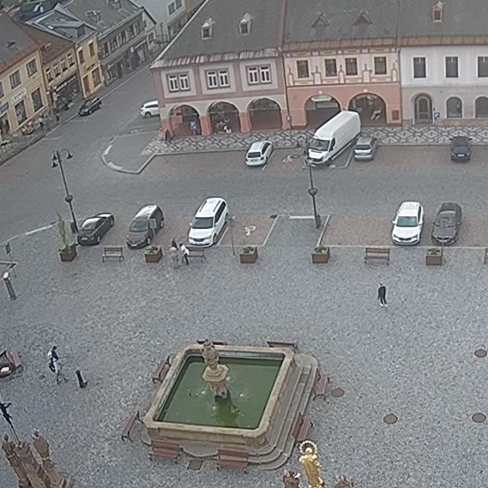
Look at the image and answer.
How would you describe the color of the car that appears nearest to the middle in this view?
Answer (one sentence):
From above, the car that appears nearest to the middle appears white.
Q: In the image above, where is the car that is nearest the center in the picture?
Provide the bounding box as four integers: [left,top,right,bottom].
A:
[187,198,232,245]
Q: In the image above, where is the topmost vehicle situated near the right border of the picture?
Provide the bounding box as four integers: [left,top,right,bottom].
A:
[449,137,472,163]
